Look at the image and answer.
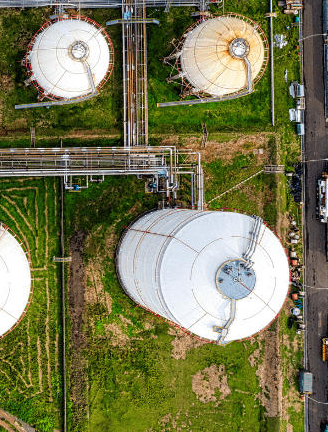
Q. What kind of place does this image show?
industrial area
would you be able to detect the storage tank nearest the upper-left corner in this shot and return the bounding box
[16,8,117,111]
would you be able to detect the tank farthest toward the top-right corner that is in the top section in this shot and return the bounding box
[159,5,273,109]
